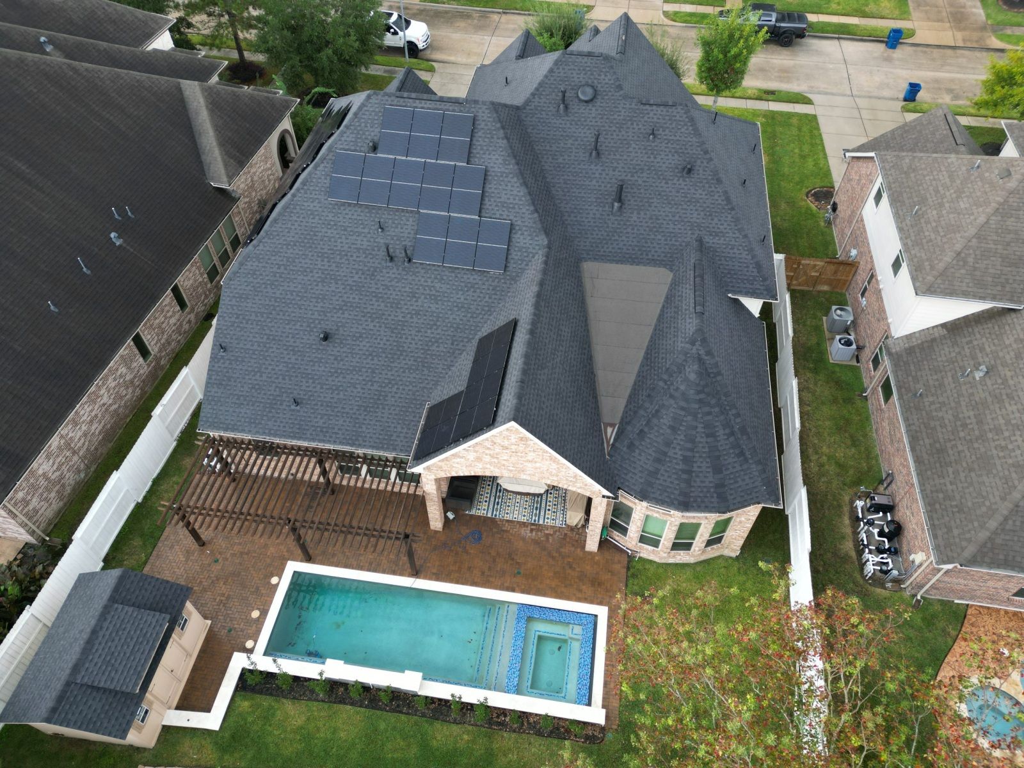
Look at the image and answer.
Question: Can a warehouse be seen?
No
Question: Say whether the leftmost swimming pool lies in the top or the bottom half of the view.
bottom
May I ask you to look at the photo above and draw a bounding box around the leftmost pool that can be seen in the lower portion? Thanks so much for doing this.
[159,560,609,731]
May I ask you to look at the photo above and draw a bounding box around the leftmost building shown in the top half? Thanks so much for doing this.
[0,0,301,547]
